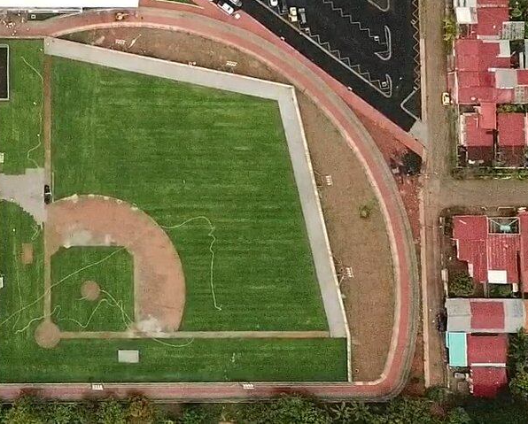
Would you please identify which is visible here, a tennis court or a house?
house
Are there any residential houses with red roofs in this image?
Yes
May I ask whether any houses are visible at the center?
No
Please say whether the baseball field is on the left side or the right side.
left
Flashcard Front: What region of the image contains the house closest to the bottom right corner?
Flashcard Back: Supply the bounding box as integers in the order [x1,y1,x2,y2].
[467,365,507,398]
